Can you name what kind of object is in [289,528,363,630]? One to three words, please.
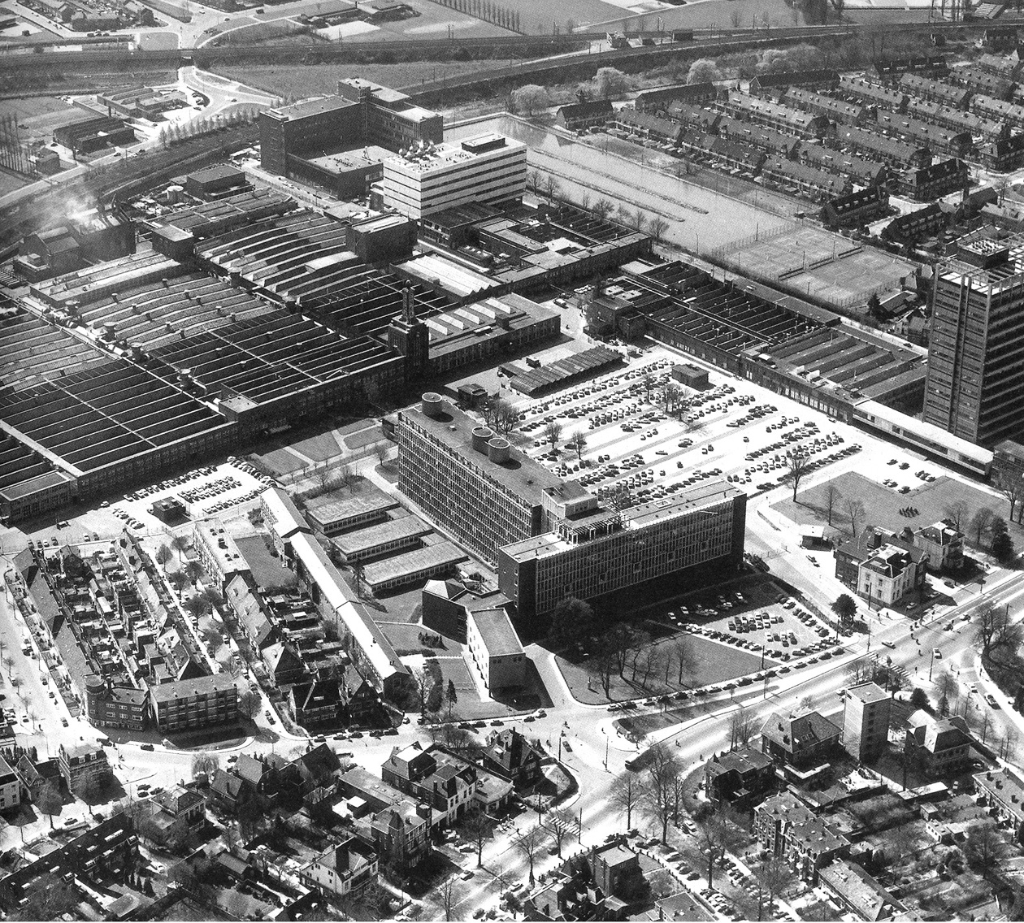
building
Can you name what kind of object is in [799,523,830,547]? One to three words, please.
shed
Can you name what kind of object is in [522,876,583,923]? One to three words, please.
house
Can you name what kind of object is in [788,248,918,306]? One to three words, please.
sports court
